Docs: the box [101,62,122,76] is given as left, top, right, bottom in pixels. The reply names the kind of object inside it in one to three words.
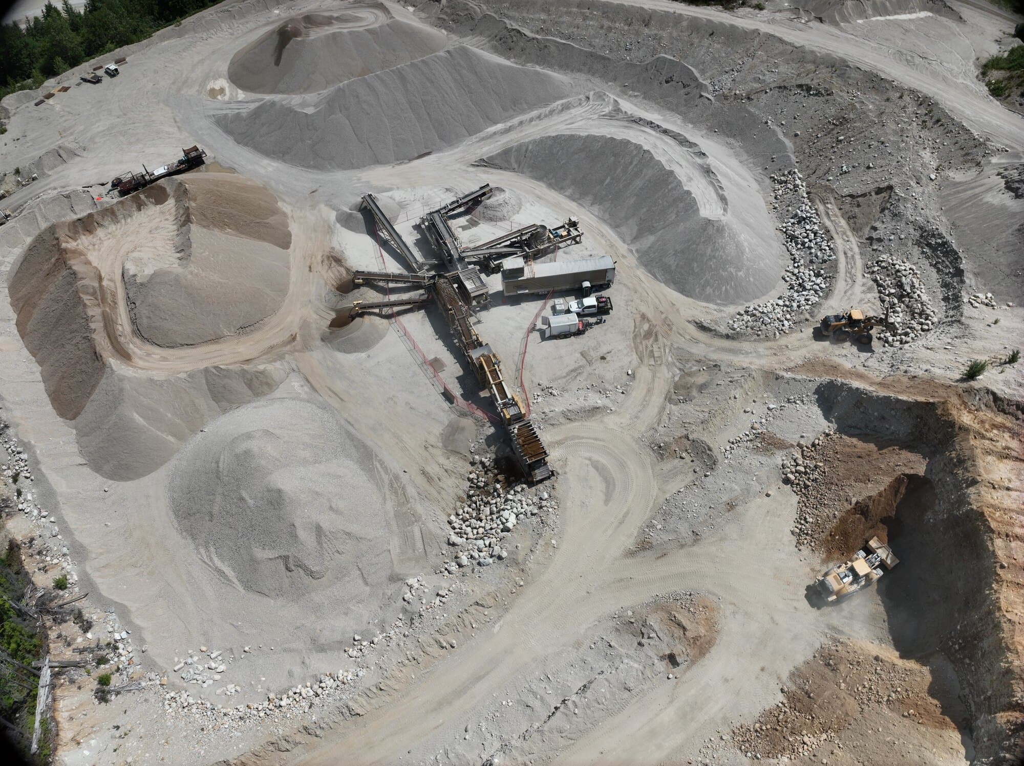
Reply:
vehicle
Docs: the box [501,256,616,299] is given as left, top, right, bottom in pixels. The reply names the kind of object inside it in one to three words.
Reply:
trailer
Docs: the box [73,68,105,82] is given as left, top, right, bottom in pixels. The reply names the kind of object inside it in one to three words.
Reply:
vehicle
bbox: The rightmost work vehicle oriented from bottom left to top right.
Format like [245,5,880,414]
[823,538,906,608]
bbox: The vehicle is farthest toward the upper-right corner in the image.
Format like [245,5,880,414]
[819,311,908,349]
